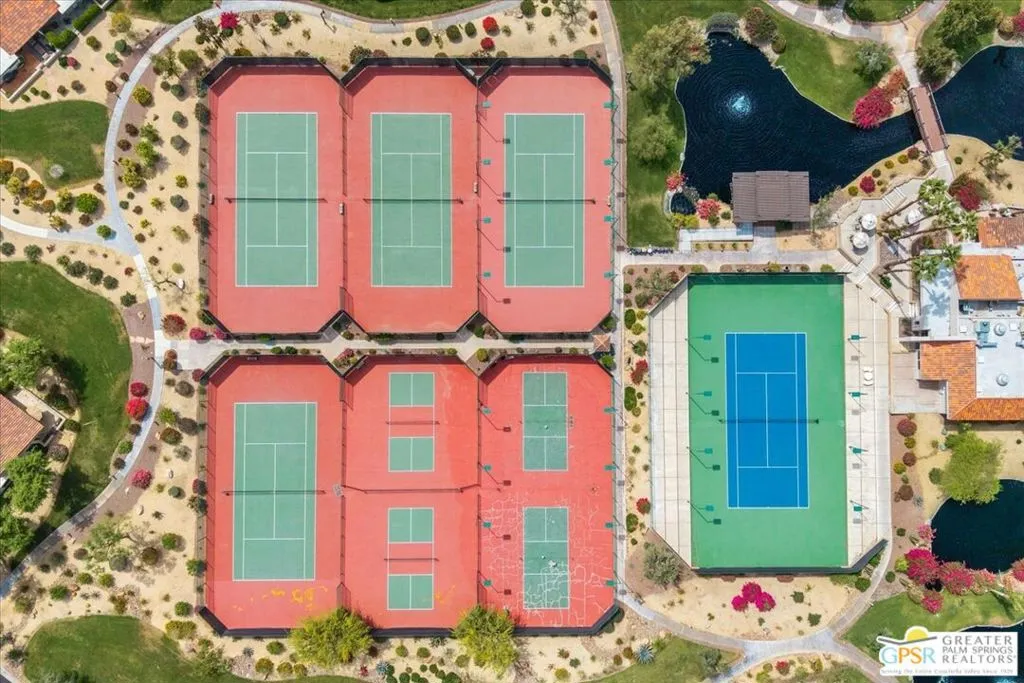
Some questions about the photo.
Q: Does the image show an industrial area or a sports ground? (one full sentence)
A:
This looks like a sports ground.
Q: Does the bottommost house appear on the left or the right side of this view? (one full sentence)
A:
The bottommost house appears in the left half of the scene.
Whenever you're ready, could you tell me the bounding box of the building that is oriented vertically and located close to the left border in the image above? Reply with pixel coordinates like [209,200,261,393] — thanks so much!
[0,393,44,493]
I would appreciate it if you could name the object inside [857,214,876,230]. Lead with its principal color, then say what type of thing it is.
white umbrella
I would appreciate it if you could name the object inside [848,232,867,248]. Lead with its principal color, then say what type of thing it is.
white umbrella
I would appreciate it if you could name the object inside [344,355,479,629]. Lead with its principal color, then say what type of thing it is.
red sports court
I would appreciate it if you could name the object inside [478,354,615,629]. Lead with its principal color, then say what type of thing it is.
red sports court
